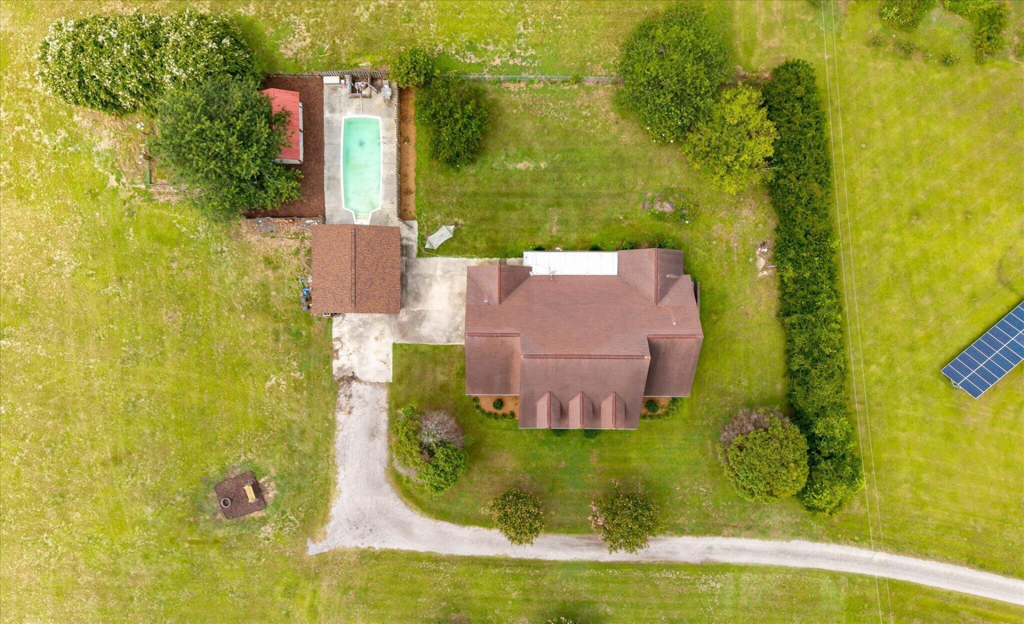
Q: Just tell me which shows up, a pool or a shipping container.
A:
pool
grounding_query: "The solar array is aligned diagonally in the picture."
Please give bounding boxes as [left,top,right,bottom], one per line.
[941,297,1024,398]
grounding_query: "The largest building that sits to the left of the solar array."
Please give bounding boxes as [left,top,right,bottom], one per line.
[464,248,701,430]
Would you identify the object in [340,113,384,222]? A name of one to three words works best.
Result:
swimming pool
